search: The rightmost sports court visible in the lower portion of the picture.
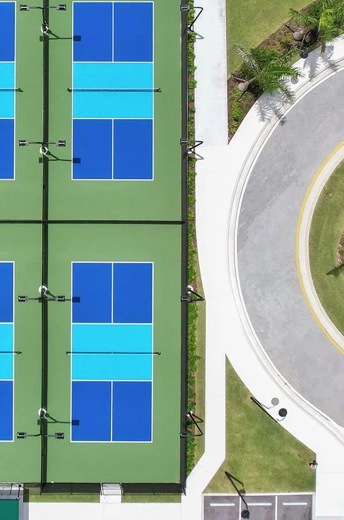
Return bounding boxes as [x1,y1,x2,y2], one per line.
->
[42,222,181,482]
